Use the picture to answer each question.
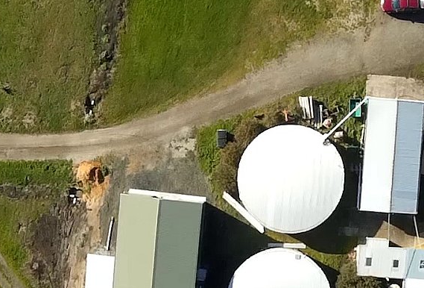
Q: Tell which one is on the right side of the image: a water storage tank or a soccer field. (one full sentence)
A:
You can see a water storage tank on the right side of the image.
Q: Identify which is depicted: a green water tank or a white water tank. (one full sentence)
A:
The one in the frame is a white water tank.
